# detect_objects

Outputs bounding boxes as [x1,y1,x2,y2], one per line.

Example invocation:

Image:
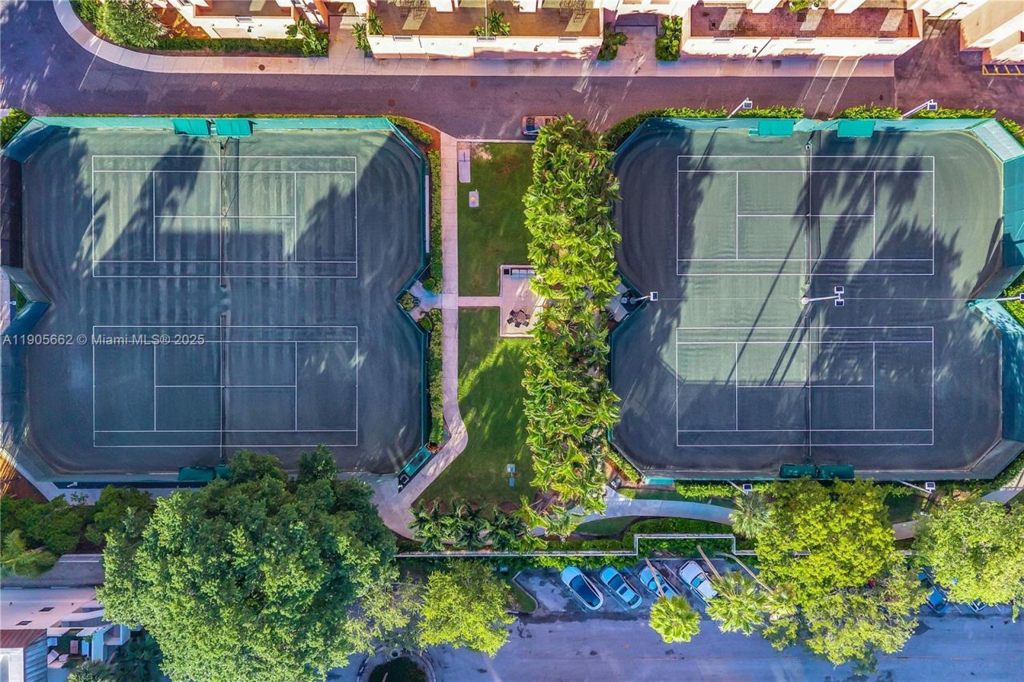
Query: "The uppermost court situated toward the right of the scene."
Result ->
[614,130,1004,301]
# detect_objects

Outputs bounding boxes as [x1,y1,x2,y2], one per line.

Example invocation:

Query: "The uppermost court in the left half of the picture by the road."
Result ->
[22,128,424,301]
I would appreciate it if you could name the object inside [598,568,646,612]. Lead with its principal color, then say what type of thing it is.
blue car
